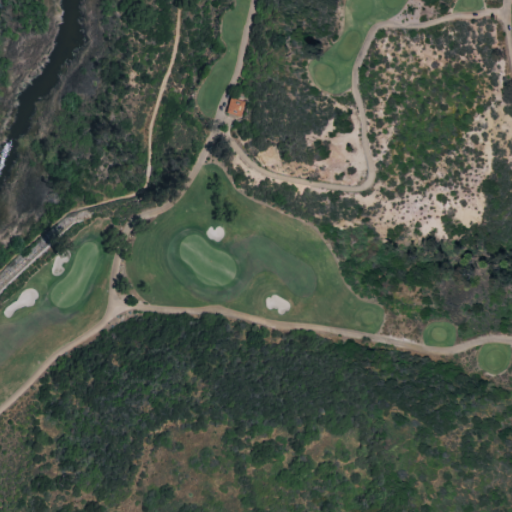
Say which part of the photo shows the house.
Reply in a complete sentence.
The house sits in the top section of the image.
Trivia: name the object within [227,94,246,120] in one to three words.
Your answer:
house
